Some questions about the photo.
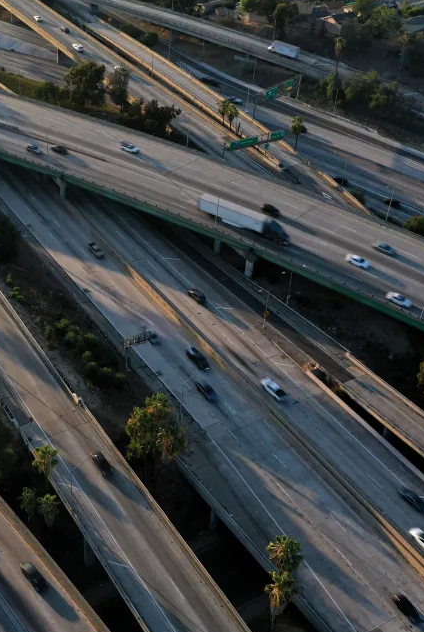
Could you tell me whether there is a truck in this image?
Yes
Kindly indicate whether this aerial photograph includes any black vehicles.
Yes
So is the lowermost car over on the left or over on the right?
right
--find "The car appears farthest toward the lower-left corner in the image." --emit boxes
[17,555,51,596]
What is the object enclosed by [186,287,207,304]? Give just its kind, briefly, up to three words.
car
